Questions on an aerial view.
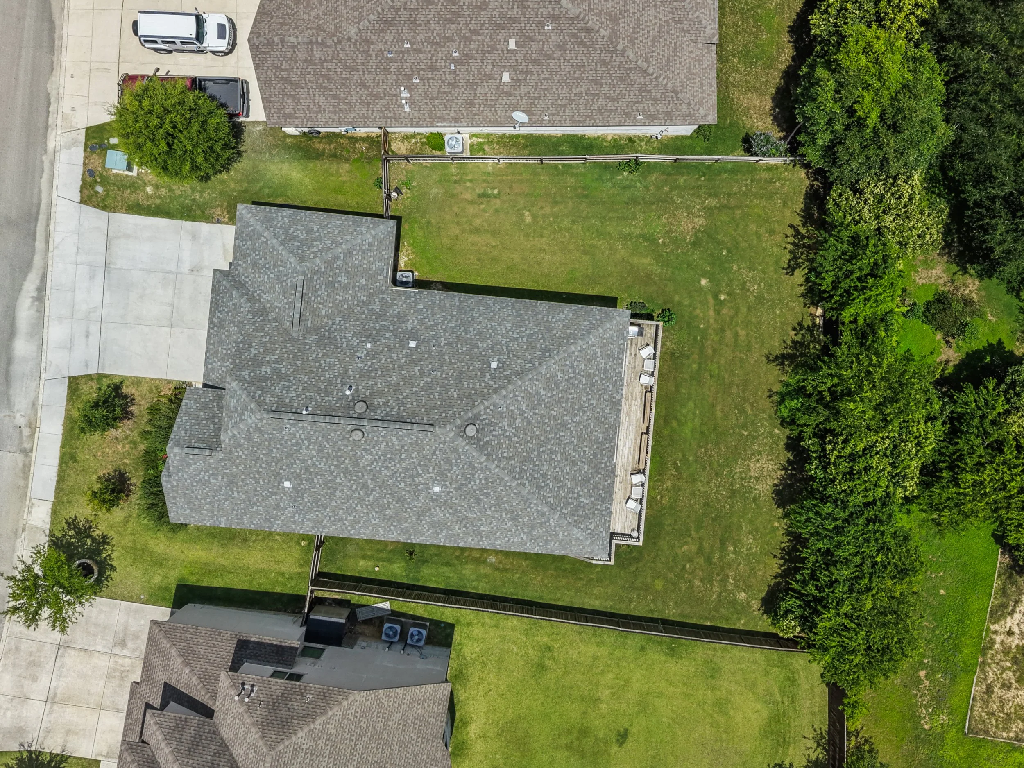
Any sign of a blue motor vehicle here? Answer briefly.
No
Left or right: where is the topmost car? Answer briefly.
left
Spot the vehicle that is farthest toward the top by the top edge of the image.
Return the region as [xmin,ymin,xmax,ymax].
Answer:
[133,6,240,63]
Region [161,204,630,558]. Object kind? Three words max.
house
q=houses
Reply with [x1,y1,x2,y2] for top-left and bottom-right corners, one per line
[161,204,630,558]
[248,0,719,138]
[118,604,453,768]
